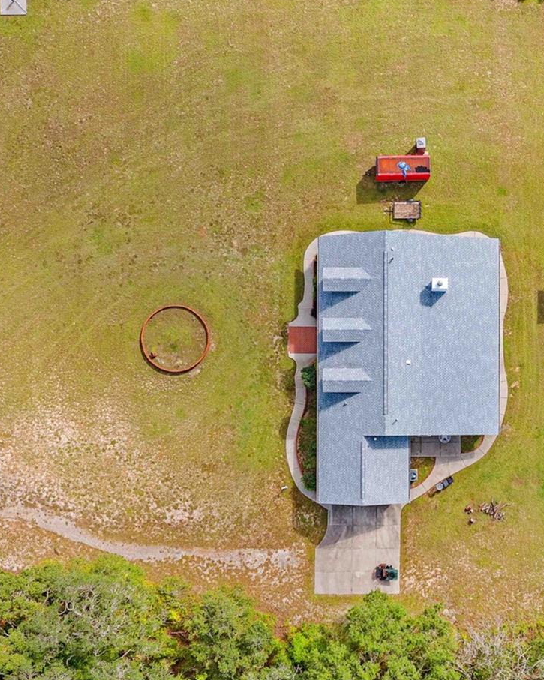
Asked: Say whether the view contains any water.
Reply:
No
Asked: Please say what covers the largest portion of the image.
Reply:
grass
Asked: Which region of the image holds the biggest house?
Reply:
right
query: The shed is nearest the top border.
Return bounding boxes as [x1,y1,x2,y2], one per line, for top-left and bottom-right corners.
[379,155,430,183]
